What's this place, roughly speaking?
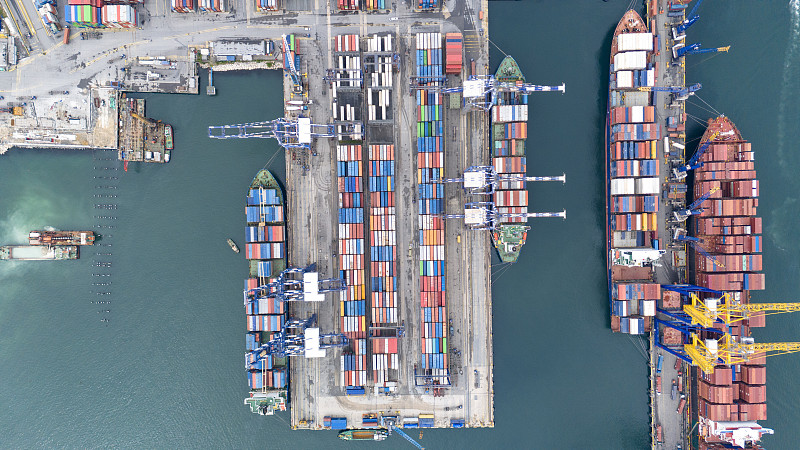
port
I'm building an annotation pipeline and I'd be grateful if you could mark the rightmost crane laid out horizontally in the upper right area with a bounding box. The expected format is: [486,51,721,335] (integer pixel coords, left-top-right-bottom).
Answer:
[668,33,733,62]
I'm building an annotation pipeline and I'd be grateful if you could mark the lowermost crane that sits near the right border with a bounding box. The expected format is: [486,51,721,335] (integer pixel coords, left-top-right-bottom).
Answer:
[655,314,800,371]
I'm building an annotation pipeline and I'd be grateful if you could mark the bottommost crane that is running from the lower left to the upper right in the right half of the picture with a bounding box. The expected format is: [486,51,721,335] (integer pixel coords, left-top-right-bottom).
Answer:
[669,185,722,225]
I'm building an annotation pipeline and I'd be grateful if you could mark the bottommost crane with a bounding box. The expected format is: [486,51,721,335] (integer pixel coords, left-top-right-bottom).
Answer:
[379,411,427,450]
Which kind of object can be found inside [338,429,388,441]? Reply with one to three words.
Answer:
boat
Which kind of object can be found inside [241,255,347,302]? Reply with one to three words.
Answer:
container crane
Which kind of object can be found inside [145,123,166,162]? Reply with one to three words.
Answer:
ship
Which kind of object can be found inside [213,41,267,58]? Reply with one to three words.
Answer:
building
